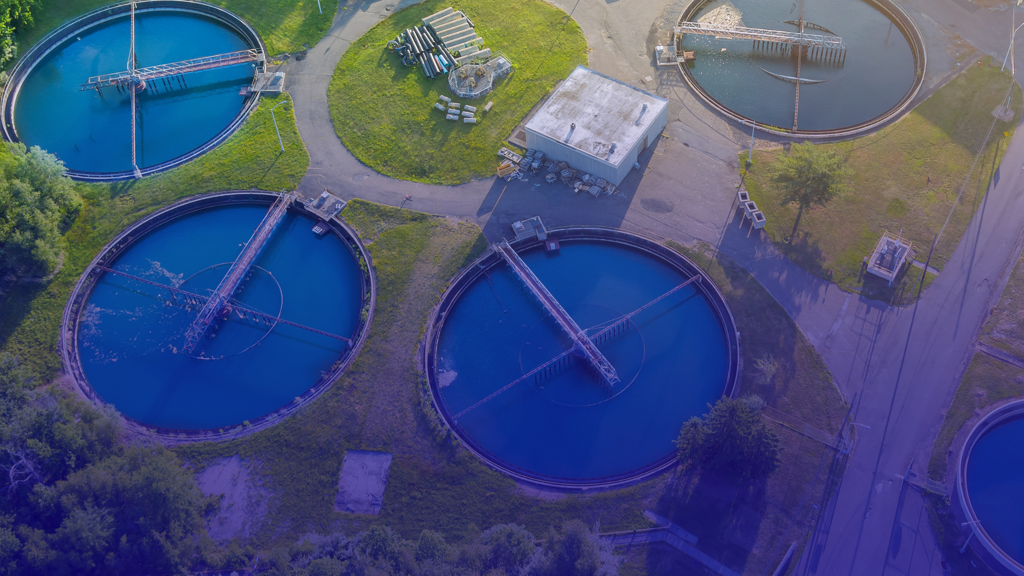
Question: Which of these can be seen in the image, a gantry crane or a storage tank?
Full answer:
There is a storage tank in the scene.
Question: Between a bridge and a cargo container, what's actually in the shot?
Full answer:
Of the two, only a bridge appears.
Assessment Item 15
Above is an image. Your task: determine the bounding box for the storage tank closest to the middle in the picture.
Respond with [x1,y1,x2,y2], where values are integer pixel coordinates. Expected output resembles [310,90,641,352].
[425,223,741,490]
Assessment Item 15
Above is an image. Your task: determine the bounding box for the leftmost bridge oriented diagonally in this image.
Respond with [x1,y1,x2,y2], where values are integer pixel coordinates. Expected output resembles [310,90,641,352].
[185,182,302,351]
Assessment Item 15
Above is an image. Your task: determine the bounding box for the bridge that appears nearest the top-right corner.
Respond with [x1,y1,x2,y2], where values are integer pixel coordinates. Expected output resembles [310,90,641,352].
[667,18,852,56]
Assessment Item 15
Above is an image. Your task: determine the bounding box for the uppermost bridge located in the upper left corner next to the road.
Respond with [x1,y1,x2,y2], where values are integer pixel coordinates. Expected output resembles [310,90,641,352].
[82,45,274,95]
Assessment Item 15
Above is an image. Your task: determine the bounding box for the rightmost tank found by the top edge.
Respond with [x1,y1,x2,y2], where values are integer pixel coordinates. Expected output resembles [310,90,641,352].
[667,0,927,141]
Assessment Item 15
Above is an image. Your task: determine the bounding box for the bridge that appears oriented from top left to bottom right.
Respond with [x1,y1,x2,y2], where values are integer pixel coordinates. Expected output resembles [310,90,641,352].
[490,231,621,390]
